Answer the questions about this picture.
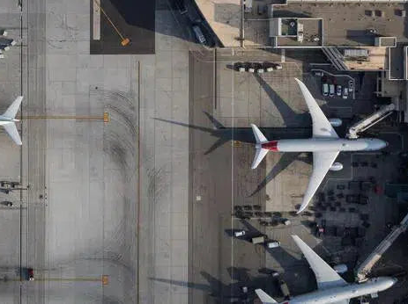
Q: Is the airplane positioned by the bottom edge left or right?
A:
right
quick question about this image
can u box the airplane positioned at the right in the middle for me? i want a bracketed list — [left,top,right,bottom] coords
[249,78,388,214]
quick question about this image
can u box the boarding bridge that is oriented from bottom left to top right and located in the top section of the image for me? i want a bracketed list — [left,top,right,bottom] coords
[344,102,399,141]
